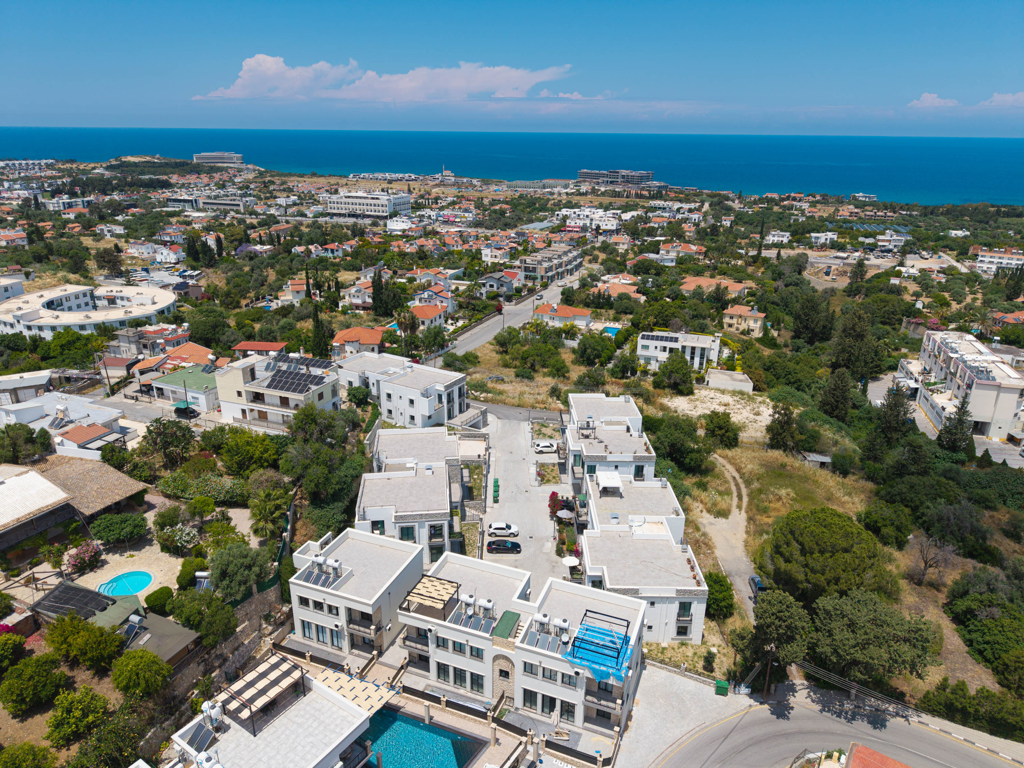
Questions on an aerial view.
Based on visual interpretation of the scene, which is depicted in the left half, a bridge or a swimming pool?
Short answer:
swimming pool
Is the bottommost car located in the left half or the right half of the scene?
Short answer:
right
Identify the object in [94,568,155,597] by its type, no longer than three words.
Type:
swimming pool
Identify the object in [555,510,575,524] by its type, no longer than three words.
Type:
umbrella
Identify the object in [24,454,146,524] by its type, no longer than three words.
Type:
building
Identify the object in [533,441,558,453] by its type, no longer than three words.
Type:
vehicle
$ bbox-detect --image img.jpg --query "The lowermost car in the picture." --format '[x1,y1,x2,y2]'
[745,573,772,595]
